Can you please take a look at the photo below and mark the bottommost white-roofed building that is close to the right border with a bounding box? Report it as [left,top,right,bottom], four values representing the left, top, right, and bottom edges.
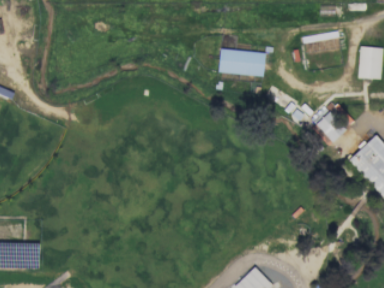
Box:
[350,135,384,201]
